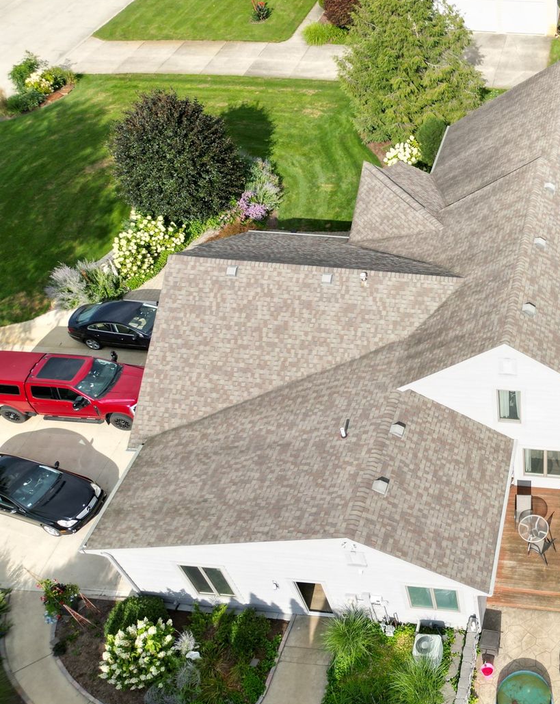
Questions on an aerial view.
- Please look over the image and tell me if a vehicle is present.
Yes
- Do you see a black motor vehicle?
Yes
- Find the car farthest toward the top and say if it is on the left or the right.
left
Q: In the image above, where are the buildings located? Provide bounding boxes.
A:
[76,61,560,637]
[430,0,560,36]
